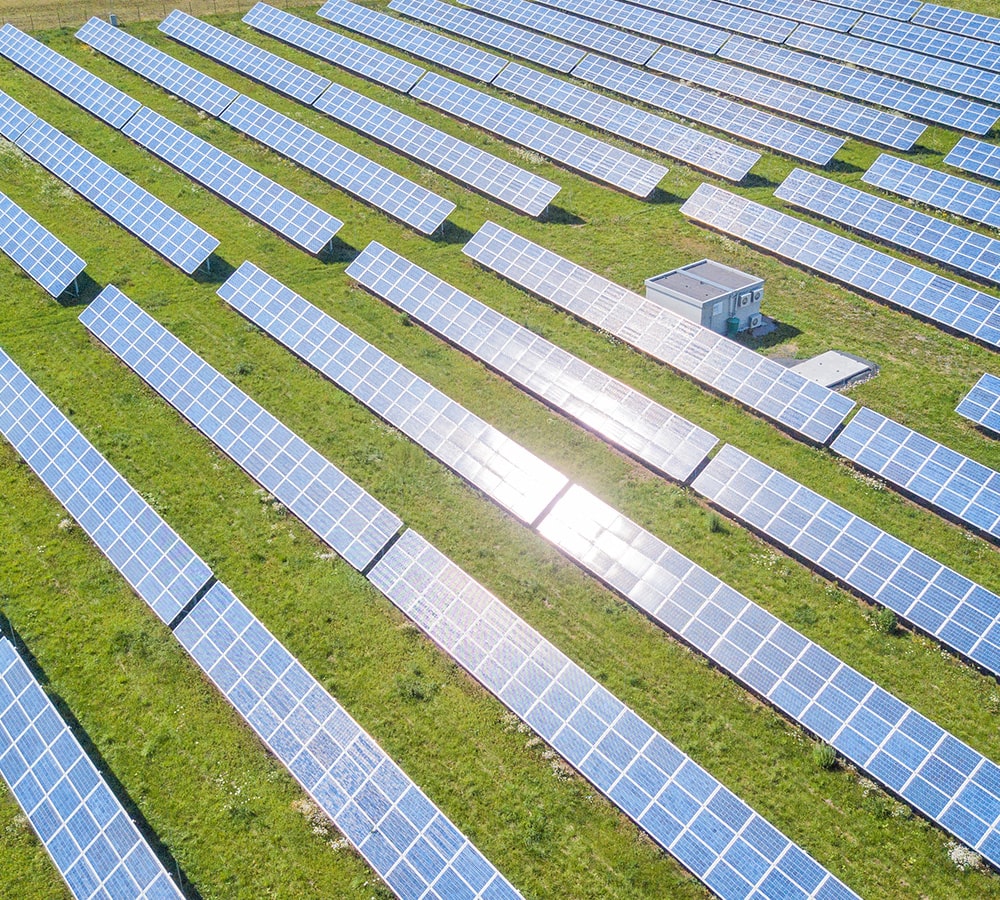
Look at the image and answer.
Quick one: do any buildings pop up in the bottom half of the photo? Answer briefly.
No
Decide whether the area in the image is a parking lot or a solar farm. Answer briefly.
solar farm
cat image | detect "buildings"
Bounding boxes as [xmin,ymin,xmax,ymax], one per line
[646,258,765,338]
